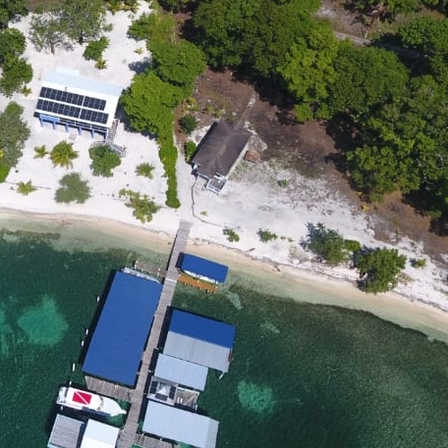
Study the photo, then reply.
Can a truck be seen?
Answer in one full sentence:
No, there is no truck in the image.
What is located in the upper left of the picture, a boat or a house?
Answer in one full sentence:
There is a house in the upper left of the picture.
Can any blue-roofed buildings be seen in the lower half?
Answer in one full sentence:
Yes, a blue-roofed building can be seen in the lower half.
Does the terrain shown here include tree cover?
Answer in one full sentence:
Yes, some tree cover is visible.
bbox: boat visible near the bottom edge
[56,386,126,428]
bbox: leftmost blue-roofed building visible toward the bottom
[84,271,163,392]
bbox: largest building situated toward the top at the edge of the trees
[36,68,128,157]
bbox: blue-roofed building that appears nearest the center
[179,255,229,291]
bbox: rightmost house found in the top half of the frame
[192,122,252,197]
